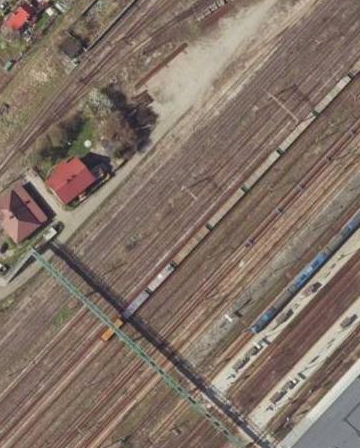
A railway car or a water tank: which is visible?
railway car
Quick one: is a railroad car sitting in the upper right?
Yes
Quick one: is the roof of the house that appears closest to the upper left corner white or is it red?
red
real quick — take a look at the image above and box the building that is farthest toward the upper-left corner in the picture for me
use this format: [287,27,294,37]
[6,7,31,30]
